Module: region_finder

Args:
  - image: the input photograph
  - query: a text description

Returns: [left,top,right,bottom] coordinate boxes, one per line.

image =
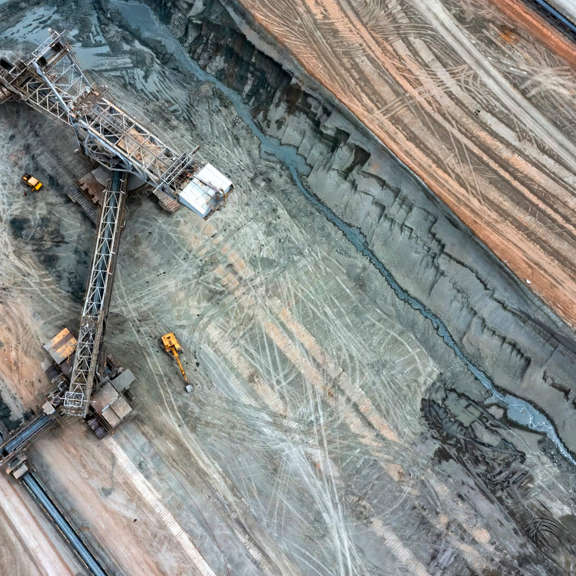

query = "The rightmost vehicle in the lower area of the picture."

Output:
[158,335,194,400]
